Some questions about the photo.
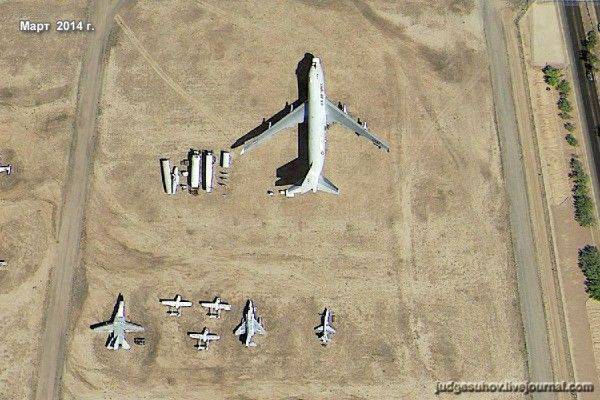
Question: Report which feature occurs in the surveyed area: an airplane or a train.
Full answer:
The image shows an airplane.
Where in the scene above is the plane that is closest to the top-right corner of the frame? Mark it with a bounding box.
[241,57,390,194]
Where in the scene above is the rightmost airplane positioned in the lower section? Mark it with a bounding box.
[315,309,336,345]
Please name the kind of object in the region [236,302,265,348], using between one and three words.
airplane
